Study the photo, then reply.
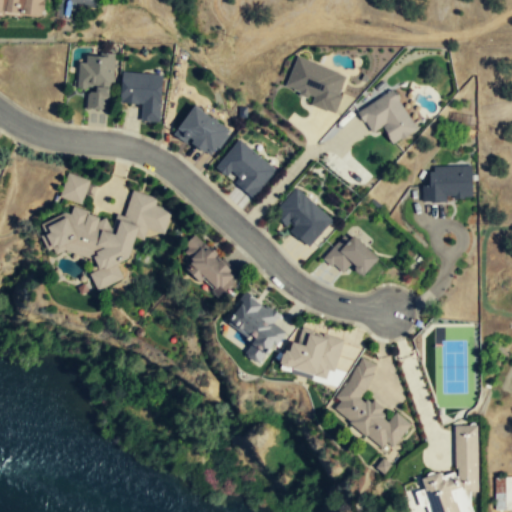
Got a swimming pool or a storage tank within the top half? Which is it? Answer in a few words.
swimming pool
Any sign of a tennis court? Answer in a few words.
Yes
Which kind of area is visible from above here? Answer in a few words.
residential area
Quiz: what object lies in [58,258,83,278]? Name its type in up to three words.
swimming pool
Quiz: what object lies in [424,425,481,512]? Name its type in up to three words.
house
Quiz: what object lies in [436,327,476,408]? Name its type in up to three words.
tennis court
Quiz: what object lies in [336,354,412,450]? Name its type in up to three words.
house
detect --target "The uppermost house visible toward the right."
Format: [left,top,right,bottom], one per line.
[289,56,346,112]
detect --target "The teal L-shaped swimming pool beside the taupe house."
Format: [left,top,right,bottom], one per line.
[72,47,93,72]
